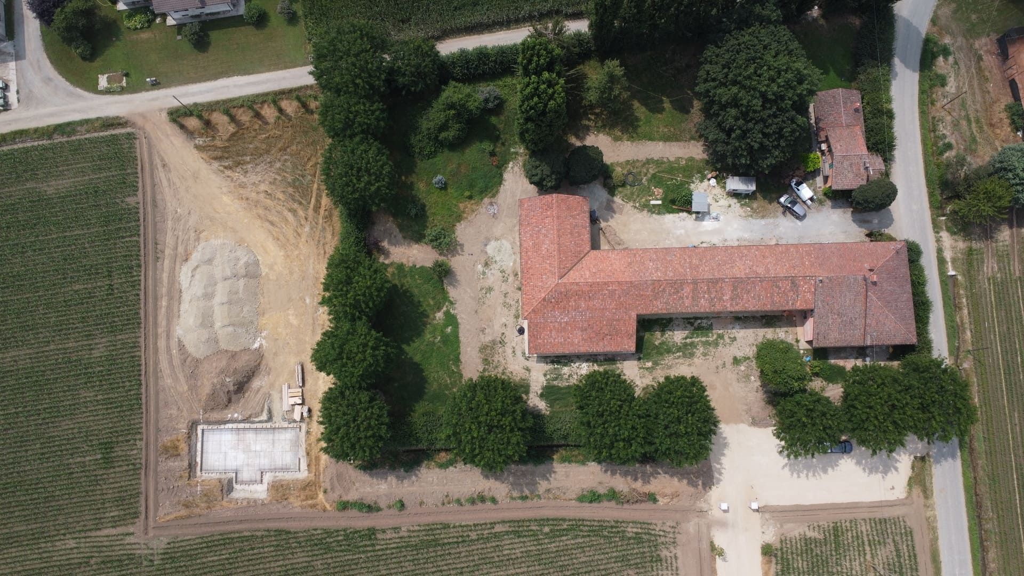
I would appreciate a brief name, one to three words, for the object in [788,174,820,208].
truck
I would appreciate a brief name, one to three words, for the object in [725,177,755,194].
shed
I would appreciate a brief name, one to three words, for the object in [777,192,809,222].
car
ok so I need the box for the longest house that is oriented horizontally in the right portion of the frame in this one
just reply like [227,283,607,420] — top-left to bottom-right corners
[519,193,917,356]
